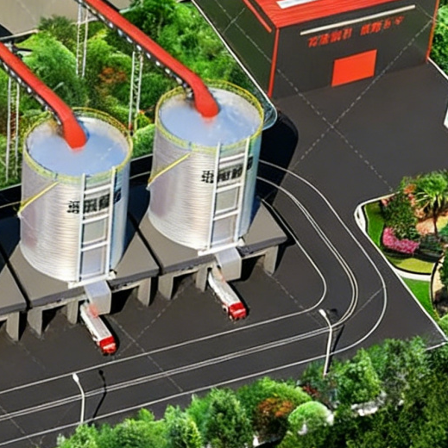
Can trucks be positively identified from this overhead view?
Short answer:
Yes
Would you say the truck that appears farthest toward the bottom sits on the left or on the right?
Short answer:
left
